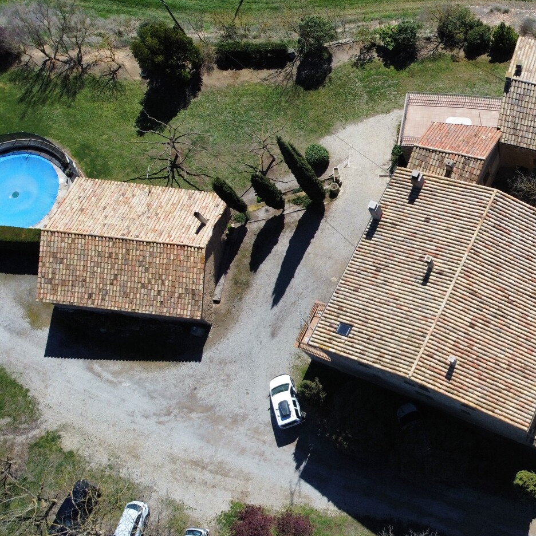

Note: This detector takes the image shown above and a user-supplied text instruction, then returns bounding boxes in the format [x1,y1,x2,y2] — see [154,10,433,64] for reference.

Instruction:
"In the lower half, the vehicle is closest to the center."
[267,374,306,434]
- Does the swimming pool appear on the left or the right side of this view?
left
